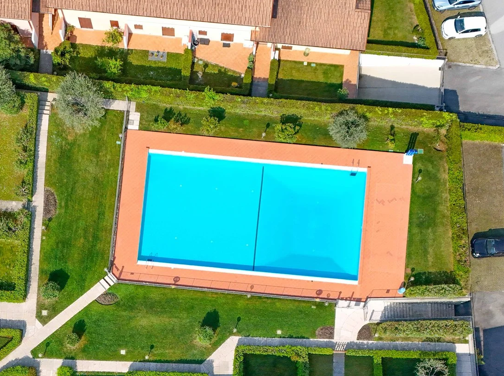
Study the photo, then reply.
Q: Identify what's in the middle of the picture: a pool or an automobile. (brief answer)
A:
pool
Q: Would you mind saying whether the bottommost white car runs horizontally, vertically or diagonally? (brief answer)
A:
horizontally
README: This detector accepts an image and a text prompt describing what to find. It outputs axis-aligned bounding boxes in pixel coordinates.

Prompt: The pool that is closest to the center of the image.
[135,147,369,287]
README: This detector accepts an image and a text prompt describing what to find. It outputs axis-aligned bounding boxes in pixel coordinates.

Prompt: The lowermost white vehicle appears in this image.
[440,16,489,42]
